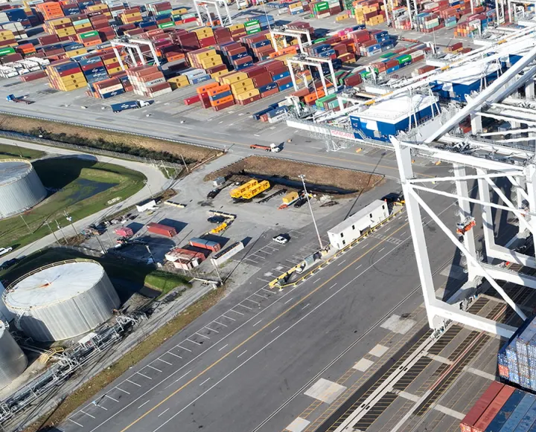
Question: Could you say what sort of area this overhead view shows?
industrial area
